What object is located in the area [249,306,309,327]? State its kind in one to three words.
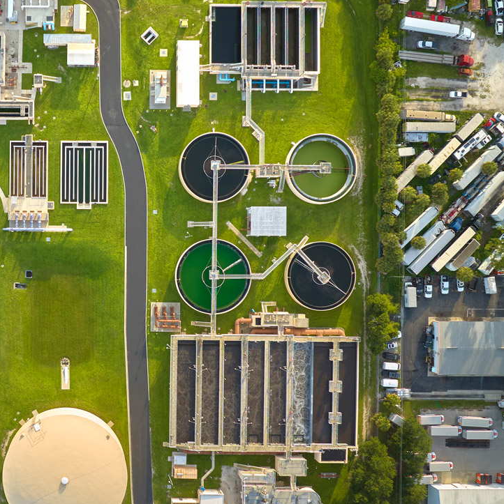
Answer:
building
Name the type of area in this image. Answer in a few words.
industrial area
